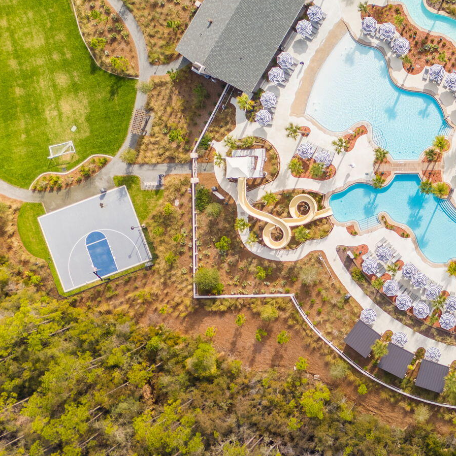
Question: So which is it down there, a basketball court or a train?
basketball court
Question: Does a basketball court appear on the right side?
No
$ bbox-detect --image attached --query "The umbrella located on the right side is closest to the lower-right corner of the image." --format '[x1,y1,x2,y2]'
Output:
[425,345,442,362]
